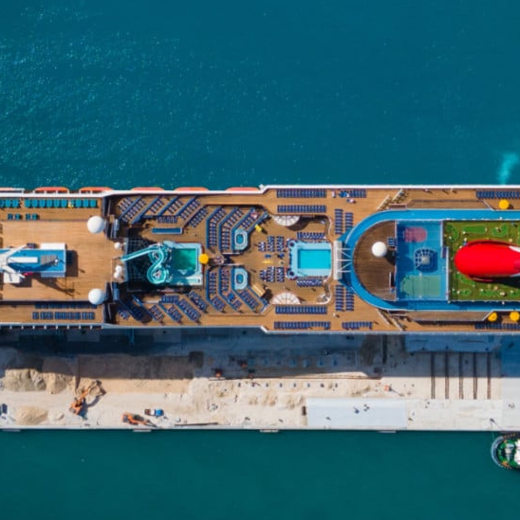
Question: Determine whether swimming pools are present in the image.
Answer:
Yes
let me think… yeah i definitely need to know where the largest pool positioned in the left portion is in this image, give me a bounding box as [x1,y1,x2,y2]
[164,241,201,286]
